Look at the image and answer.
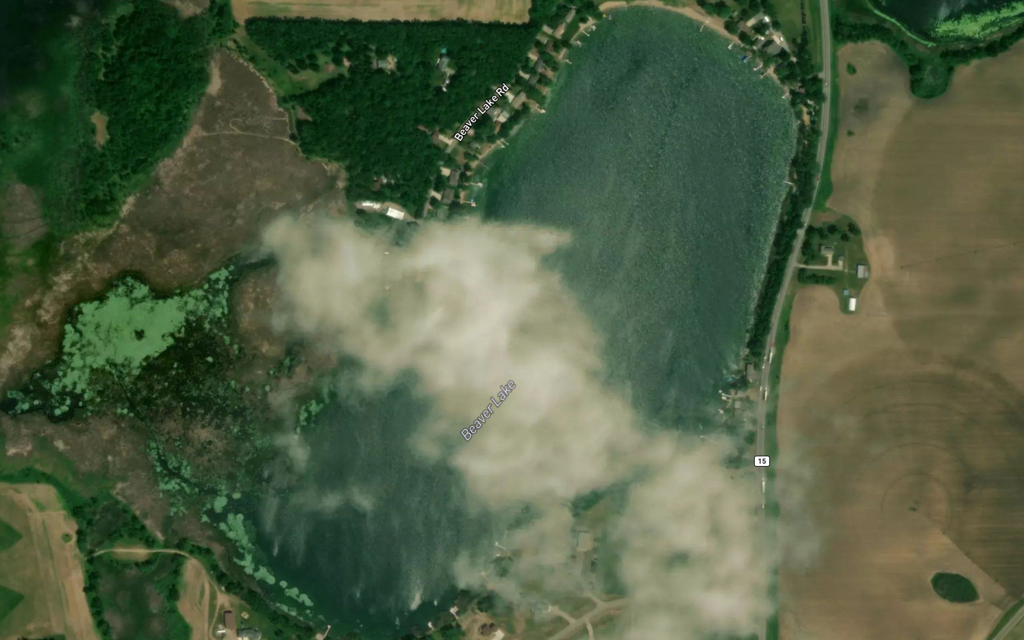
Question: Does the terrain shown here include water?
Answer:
Yes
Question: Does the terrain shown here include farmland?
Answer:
Yes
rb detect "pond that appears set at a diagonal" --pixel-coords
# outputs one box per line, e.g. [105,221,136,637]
[0,255,275,421]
